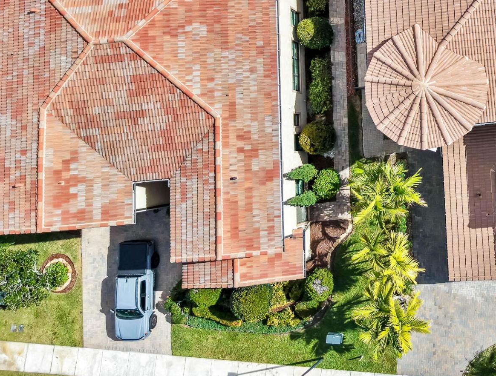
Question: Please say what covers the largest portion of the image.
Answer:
buildings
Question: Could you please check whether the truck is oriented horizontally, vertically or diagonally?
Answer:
vertically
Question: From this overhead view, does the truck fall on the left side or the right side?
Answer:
left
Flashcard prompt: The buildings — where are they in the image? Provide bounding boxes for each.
[361,0,496,280]
[0,0,313,289]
